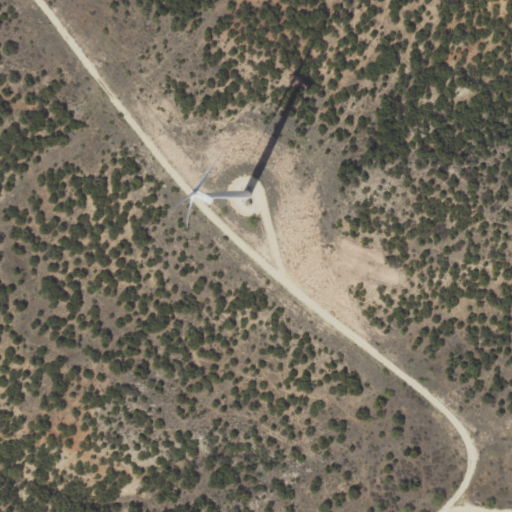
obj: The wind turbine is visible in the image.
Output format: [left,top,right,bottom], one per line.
[168,137,254,226]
